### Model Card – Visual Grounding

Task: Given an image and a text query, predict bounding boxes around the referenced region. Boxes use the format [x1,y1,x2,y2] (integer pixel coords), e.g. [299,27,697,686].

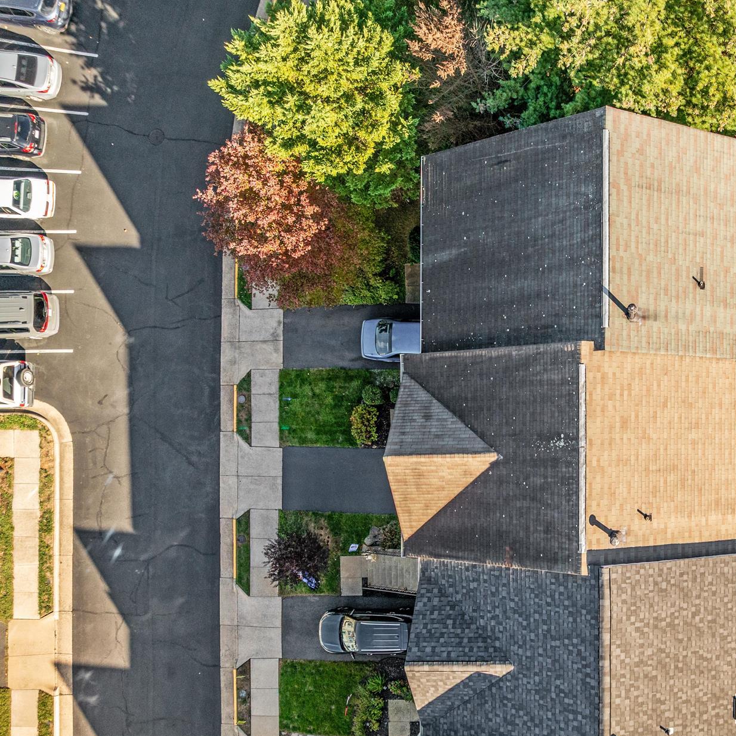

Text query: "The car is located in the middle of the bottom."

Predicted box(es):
[317,610,414,663]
